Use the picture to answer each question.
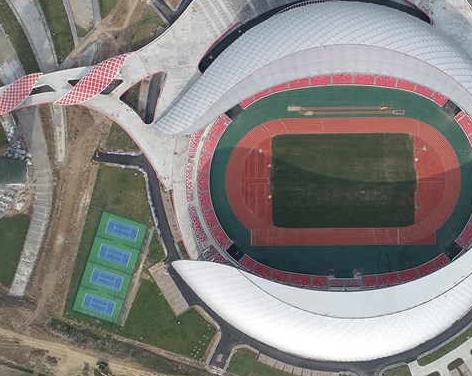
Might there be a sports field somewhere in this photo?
Yes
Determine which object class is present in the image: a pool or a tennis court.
tennis court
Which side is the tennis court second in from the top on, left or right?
left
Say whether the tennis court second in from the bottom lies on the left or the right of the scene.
left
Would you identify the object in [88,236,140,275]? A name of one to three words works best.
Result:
tennis court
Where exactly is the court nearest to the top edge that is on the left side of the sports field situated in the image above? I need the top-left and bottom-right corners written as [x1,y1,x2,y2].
[95,211,148,251]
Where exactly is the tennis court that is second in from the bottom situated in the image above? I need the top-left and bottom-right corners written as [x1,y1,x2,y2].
[80,261,133,300]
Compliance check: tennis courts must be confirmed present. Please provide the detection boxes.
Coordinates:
[73,285,125,325]
[80,261,133,300]
[88,236,140,275]
[95,211,148,251]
